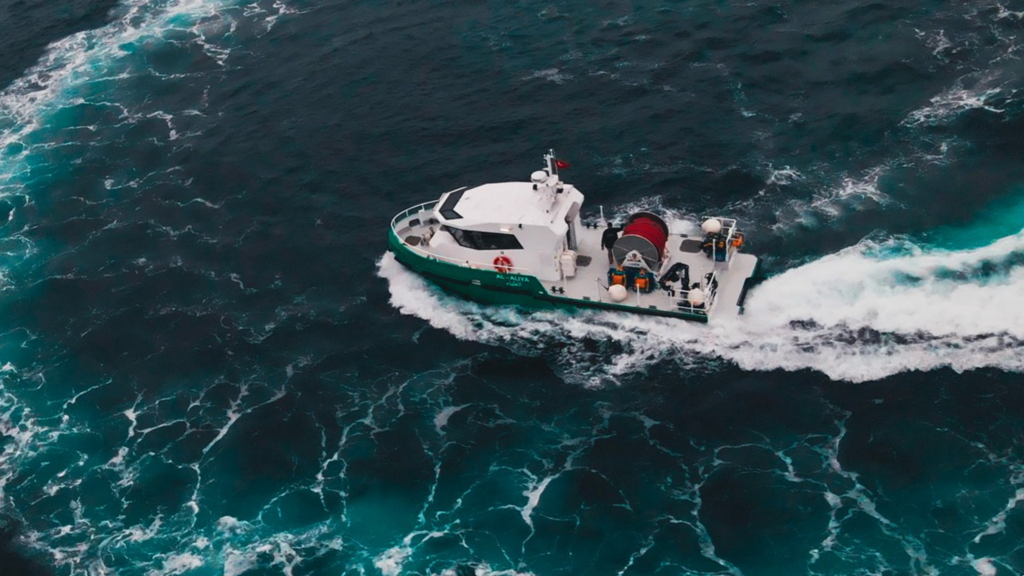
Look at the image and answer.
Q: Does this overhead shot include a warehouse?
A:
No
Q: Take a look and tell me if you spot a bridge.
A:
No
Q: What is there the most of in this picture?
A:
water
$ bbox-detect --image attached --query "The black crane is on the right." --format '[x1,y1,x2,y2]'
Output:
[656,260,691,301]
